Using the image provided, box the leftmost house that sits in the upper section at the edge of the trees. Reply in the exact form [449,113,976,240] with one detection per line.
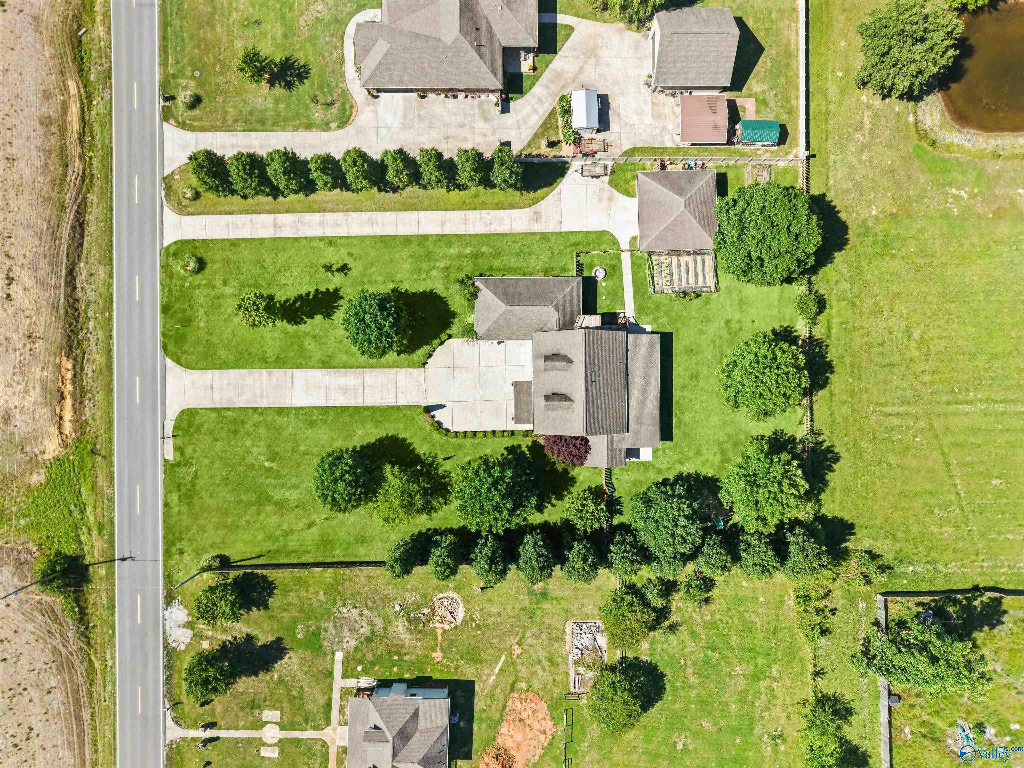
[353,0,538,114]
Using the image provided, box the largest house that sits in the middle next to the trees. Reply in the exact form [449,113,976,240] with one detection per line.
[474,276,661,468]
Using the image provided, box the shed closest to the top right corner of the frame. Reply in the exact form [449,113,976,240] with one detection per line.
[736,119,780,146]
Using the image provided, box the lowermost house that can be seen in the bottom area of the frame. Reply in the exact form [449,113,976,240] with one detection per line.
[346,683,450,768]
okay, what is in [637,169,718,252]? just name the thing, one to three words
building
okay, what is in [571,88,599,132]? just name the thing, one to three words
shed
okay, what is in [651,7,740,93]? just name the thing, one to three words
building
